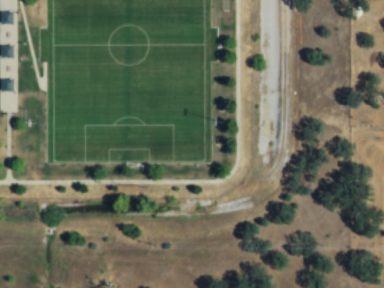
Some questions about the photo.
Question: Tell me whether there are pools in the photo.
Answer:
No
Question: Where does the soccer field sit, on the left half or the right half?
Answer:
left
